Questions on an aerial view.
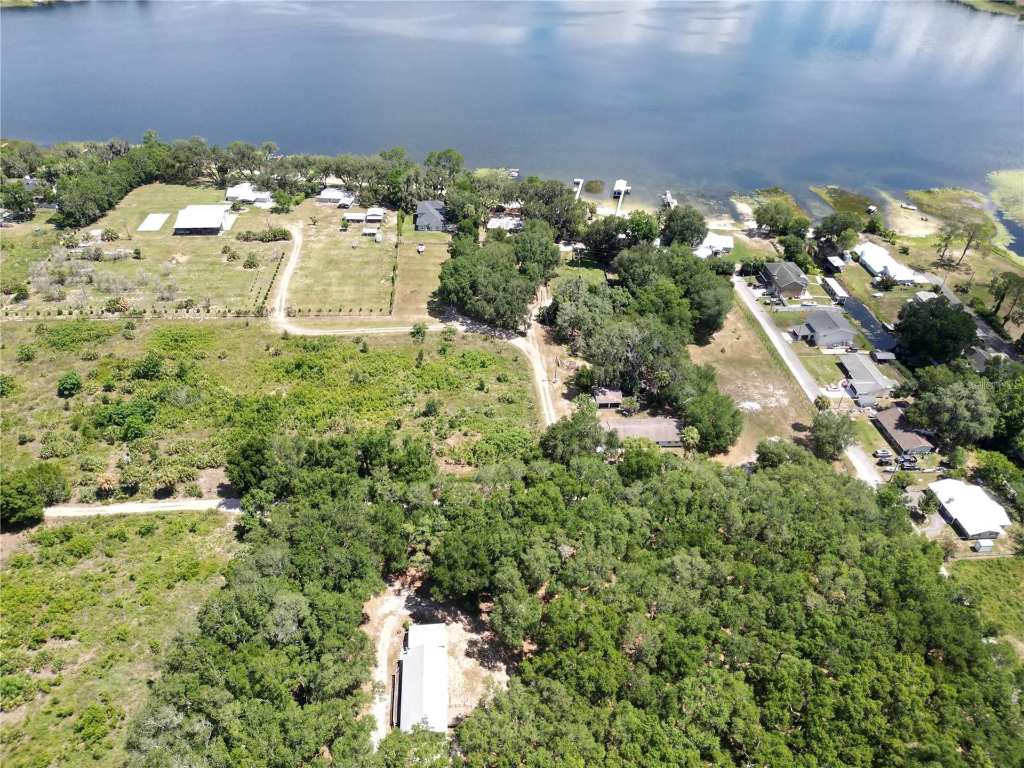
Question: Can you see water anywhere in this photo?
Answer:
Yes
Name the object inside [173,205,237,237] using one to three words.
barn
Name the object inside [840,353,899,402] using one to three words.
house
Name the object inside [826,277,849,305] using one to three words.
building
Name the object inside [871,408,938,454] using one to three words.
house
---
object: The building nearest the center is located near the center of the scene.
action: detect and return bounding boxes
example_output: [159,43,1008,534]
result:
[594,389,622,409]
